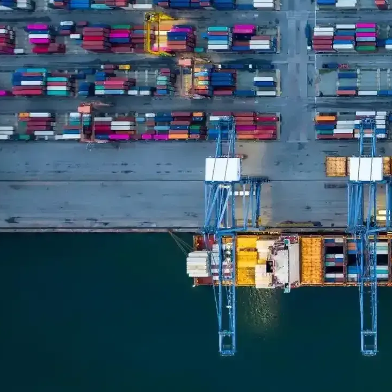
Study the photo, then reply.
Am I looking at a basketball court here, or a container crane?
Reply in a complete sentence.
It is a container crane that can be seen here.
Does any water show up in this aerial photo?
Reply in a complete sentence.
Yes, the picture does contain water.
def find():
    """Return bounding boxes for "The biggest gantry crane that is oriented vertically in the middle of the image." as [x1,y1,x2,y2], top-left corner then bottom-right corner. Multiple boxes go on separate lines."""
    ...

[200,116,271,358]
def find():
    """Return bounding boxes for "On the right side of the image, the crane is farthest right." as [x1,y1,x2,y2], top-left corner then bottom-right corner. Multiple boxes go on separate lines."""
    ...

[347,116,392,357]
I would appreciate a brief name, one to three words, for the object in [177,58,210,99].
container crane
